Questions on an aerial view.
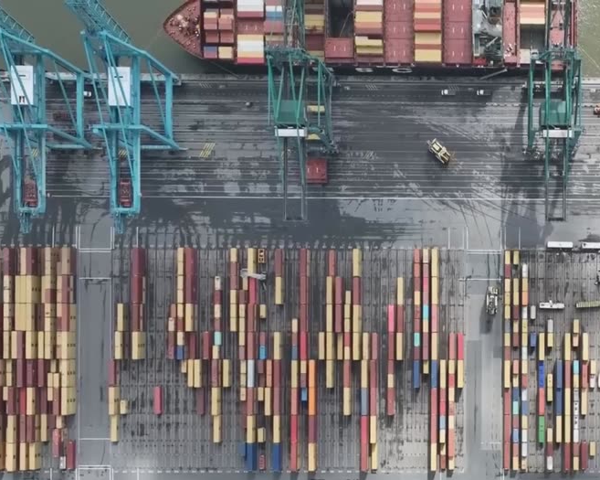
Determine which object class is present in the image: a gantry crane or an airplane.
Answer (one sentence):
I can see a gantry crane in this picture.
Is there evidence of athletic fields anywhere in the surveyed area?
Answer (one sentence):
No, no athletic field can be seen from above.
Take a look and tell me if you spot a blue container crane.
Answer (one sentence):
Yes, there's a blue container crane here.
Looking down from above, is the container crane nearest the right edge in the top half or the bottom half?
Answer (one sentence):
You can find the container crane nearest the right edge in the top half.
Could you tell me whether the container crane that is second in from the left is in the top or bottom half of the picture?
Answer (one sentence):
The container crane that is second in from the left sits in the top half of the picture.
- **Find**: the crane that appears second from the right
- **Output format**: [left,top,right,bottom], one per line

[267,0,342,227]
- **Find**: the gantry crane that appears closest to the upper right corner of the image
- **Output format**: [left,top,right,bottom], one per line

[521,0,587,229]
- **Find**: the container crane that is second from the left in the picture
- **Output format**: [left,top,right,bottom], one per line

[72,0,187,227]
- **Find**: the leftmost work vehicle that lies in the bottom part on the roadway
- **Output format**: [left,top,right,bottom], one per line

[486,287,498,313]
